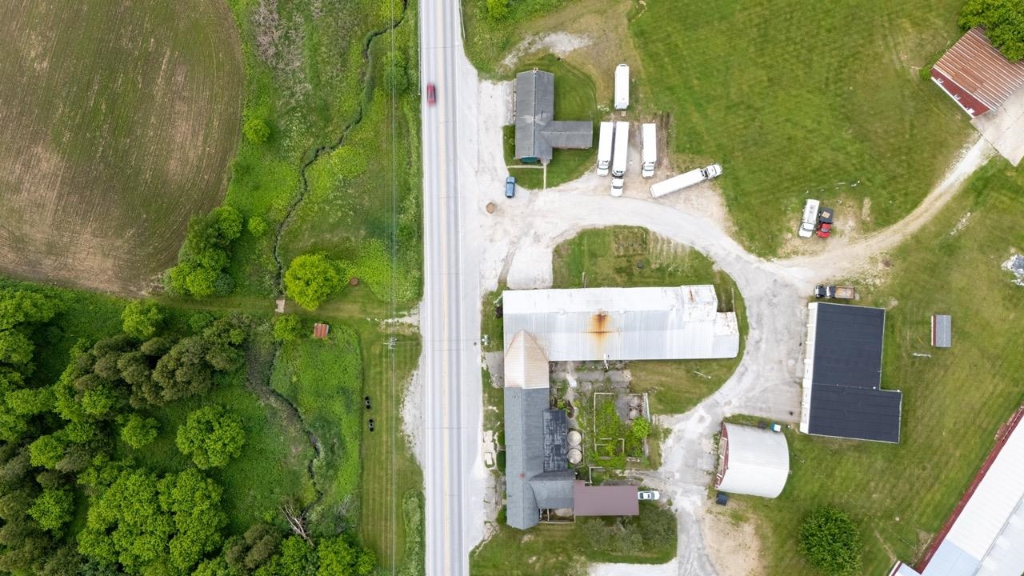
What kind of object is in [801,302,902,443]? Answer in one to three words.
building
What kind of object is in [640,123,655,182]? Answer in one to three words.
vehicle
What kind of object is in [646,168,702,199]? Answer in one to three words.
trailer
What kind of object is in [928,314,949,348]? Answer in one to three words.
shed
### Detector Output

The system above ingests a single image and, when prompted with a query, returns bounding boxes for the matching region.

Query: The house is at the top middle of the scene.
[515,69,593,166]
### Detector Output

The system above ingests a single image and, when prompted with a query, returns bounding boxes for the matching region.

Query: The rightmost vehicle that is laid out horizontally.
[818,285,855,299]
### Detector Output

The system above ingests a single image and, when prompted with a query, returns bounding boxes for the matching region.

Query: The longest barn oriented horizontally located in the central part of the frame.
[503,286,738,369]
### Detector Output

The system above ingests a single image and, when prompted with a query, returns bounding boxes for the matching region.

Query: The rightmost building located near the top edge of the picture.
[930,28,1024,117]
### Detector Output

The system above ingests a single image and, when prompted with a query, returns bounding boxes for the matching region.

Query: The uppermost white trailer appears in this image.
[613,66,628,114]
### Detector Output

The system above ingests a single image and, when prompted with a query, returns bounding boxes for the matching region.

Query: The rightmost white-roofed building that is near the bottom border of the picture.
[916,399,1024,576]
